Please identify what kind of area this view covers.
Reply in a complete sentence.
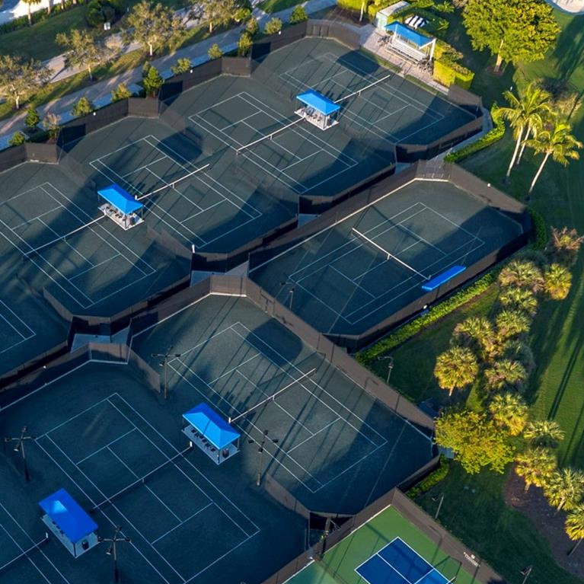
It's a sports ground.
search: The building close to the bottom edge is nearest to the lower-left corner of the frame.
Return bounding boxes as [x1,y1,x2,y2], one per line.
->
[37,486,101,558]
